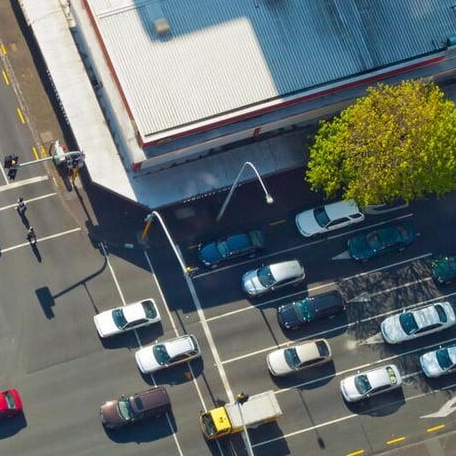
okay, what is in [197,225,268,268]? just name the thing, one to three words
car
